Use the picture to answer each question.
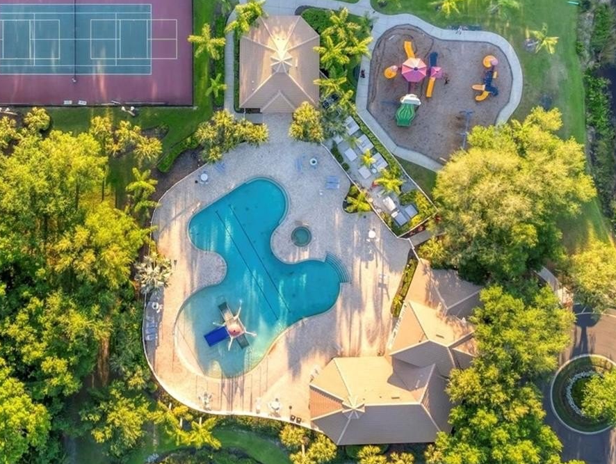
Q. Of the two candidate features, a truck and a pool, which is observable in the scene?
pool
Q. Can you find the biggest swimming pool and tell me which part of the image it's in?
center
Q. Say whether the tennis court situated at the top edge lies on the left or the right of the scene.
left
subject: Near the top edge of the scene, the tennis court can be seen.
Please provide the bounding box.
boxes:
[0,0,193,104]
